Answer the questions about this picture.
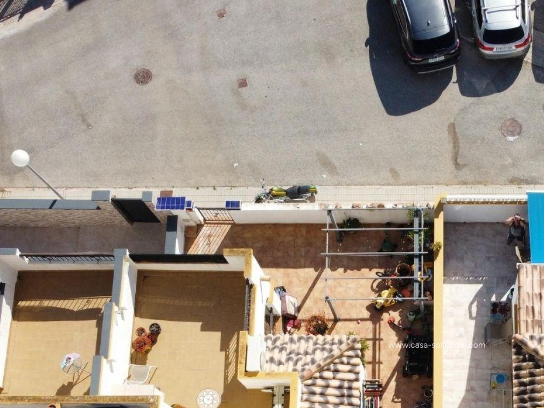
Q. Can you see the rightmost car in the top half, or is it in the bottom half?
top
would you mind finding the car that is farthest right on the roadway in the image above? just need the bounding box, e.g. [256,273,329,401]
[473,0,533,61]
